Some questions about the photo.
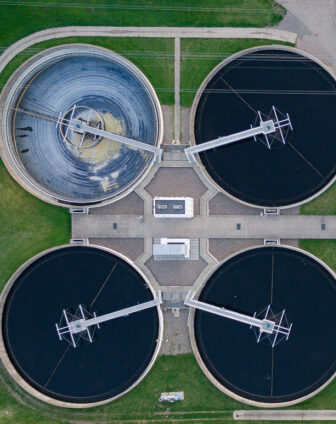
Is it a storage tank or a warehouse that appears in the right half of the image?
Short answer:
storage tank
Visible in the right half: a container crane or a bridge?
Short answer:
bridge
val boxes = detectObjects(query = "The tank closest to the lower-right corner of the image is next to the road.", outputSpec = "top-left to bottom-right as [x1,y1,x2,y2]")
[189,244,336,407]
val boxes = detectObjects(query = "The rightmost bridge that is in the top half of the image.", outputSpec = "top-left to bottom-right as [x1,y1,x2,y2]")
[190,117,280,166]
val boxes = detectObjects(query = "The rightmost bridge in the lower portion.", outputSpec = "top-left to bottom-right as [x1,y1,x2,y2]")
[189,287,280,335]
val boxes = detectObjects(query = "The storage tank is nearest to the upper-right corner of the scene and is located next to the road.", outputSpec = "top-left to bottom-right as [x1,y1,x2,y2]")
[190,45,336,208]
